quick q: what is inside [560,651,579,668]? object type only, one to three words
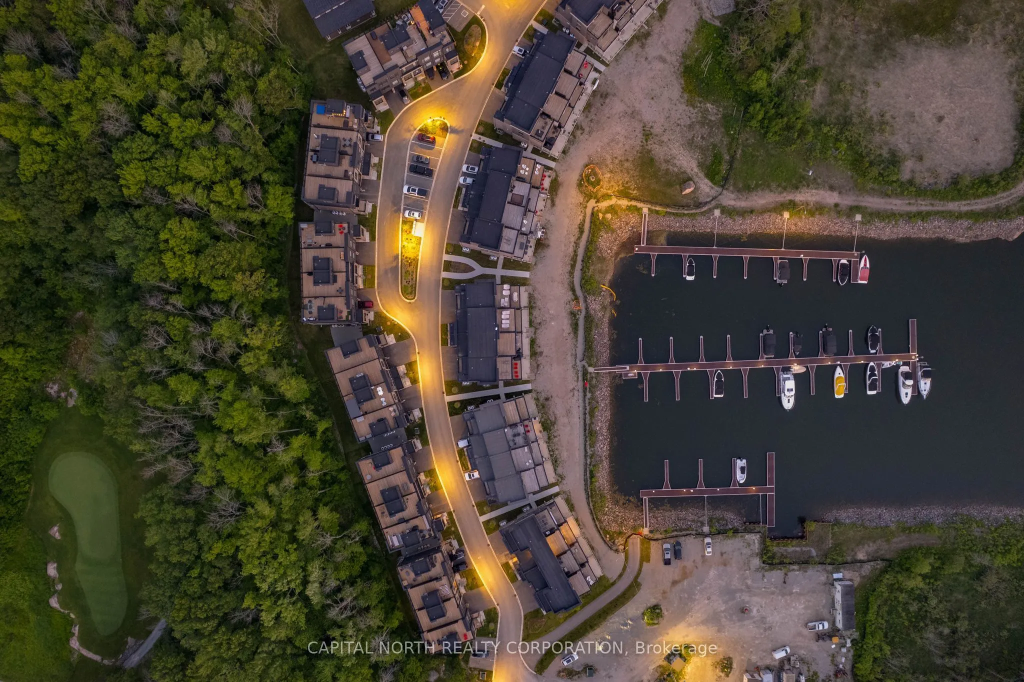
car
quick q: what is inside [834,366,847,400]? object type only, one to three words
boat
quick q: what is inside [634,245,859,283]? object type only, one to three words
pier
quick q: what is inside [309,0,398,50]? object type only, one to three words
house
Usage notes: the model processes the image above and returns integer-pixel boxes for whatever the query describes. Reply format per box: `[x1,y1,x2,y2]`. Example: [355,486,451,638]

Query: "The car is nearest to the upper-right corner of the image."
[512,44,530,56]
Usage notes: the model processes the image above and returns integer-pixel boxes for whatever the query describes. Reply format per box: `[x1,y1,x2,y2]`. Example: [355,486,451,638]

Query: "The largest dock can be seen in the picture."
[616,319,918,401]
